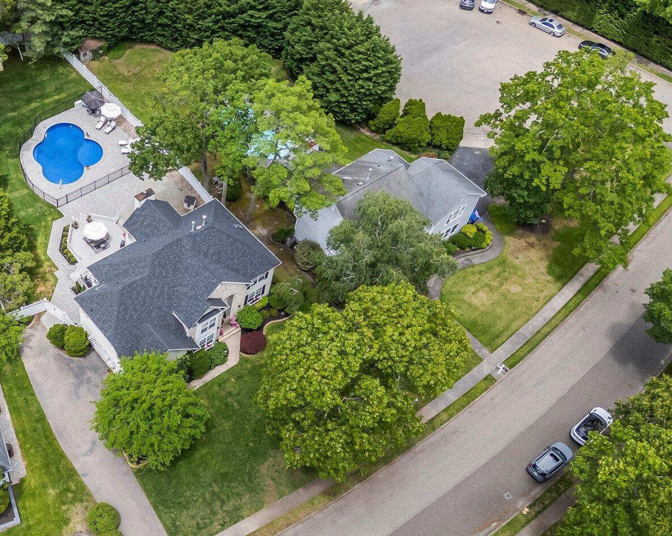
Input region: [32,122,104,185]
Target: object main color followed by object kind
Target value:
blue swimming pool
